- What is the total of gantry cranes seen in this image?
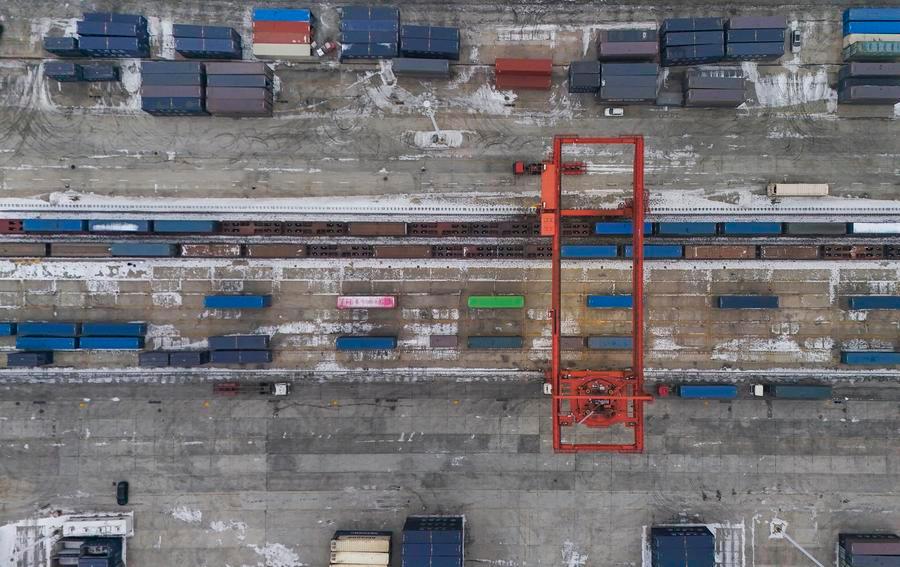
1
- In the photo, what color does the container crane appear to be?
red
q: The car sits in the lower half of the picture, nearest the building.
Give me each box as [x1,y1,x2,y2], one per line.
[117,482,129,505]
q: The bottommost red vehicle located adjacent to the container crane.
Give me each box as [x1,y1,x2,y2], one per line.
[656,383,687,398]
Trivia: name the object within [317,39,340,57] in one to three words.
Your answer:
work vehicle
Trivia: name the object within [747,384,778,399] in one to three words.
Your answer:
vehicle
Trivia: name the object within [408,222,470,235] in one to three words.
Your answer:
rail car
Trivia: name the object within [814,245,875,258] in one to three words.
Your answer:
rail car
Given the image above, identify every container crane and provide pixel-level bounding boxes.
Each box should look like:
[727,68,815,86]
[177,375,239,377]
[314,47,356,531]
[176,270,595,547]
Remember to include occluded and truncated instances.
[528,133,654,455]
